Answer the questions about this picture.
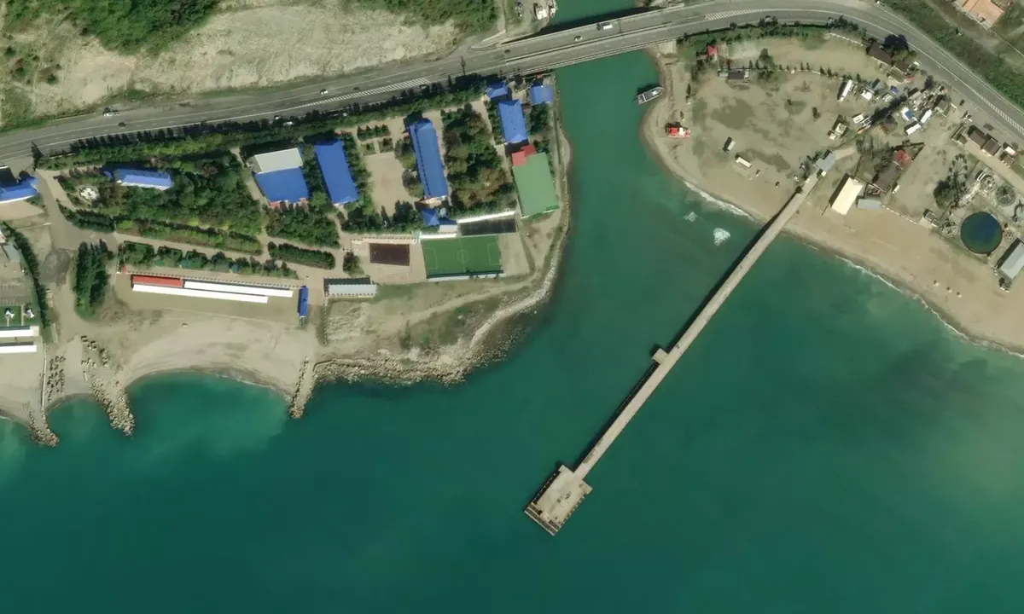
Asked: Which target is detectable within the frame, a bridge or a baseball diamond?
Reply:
bridge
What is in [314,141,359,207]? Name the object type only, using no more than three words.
building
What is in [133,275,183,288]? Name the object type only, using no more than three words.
shed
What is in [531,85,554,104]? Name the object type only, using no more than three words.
house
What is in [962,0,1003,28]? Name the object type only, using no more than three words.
house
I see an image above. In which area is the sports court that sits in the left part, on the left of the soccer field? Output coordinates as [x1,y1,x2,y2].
[370,243,410,265]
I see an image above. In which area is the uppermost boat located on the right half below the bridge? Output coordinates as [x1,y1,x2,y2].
[638,88,661,103]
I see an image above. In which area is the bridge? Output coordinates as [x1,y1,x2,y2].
[500,4,681,74]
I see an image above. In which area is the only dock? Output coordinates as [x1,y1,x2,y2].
[524,161,824,536]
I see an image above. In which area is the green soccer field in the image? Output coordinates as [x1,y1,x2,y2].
[421,235,503,277]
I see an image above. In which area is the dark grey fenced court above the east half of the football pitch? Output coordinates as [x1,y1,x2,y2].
[459,217,518,236]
